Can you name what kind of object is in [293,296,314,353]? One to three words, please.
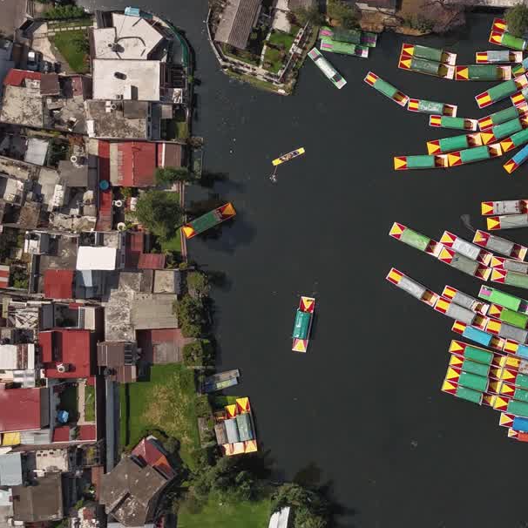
boat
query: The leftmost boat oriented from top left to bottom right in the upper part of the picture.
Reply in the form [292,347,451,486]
[308,48,346,88]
